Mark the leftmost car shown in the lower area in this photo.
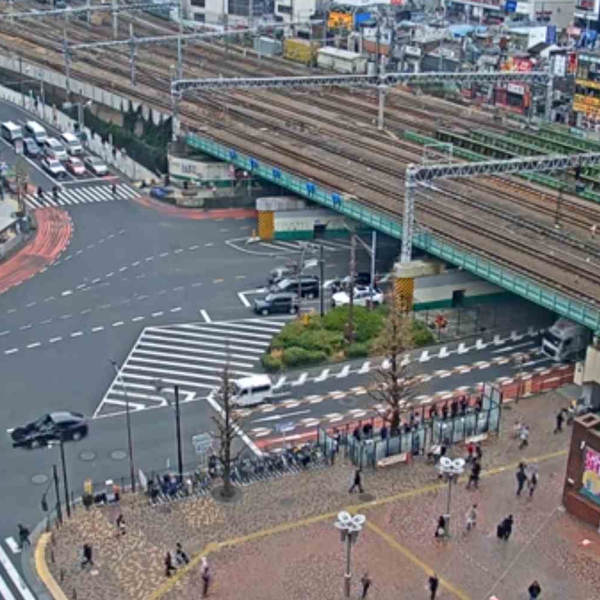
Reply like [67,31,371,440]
[18,411,91,445]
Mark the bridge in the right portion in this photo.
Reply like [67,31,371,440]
[185,124,600,345]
